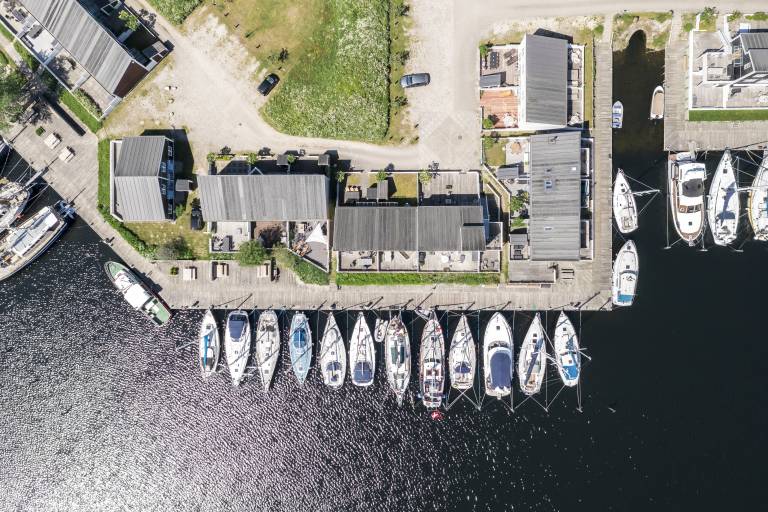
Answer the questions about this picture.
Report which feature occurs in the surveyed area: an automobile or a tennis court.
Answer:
automobile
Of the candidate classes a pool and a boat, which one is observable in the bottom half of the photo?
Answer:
boat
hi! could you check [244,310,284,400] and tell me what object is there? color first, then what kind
white boat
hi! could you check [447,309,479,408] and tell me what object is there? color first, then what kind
white boat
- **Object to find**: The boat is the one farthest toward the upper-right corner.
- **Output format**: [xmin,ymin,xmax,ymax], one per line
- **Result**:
[648,88,664,122]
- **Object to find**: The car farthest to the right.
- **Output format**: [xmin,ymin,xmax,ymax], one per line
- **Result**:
[400,71,430,87]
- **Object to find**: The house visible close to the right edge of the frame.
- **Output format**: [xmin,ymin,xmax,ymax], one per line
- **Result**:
[731,31,768,84]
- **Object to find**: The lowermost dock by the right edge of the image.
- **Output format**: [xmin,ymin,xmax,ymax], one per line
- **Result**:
[661,121,768,152]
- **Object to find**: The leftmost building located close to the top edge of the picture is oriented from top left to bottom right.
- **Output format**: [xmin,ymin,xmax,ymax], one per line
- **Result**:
[16,0,148,98]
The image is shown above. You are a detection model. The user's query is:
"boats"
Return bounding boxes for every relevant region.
[0,140,14,160]
[548,309,599,409]
[348,309,380,403]
[668,145,706,249]
[606,232,640,307]
[374,310,387,343]
[742,151,768,244]
[0,192,77,277]
[95,233,174,327]
[611,166,660,235]
[0,164,52,233]
[318,309,347,402]
[286,309,316,401]
[648,88,664,122]
[703,150,768,249]
[480,309,513,408]
[244,310,284,400]
[209,310,254,400]
[381,309,412,408]
[178,309,225,397]
[447,309,479,408]
[514,309,565,409]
